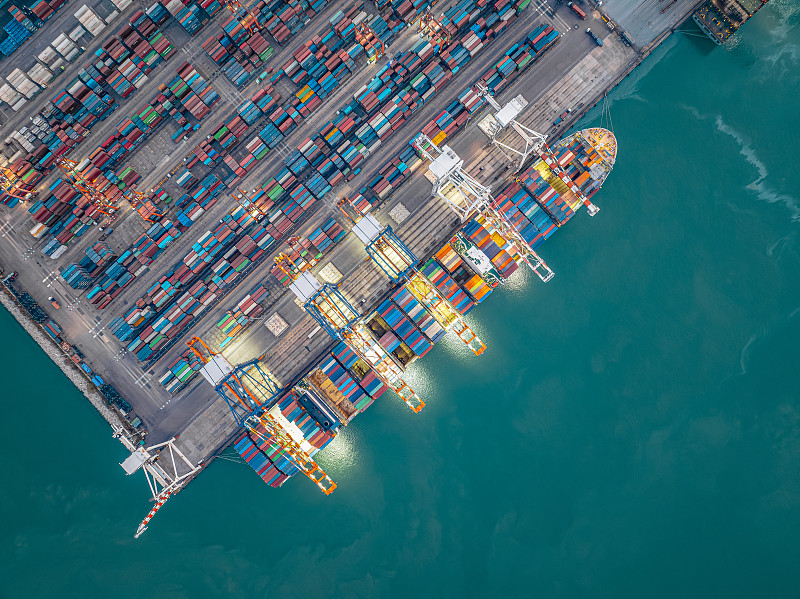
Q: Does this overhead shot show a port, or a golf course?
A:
port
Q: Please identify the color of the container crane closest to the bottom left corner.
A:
white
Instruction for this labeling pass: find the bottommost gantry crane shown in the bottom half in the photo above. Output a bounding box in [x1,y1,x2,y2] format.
[109,428,209,543]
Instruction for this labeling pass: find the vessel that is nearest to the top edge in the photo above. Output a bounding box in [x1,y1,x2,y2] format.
[689,0,766,47]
